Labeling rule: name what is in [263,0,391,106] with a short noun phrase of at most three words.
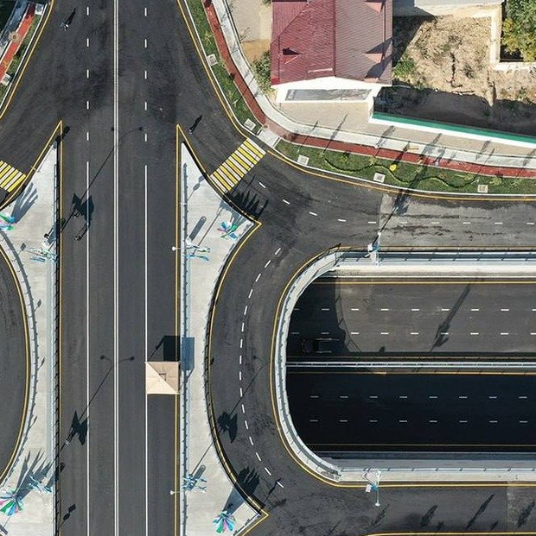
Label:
house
